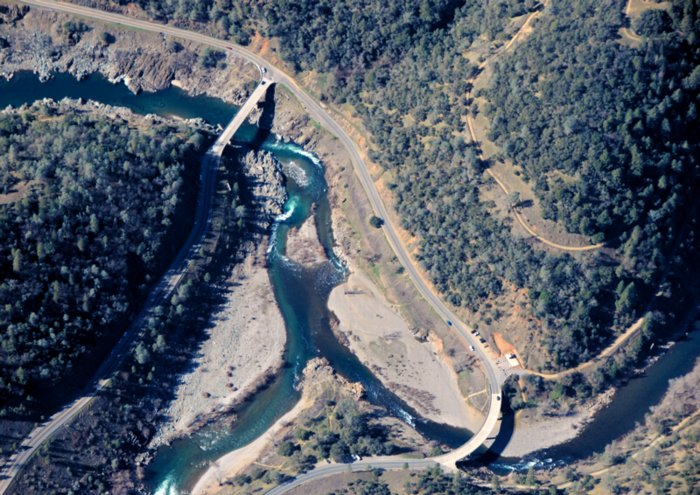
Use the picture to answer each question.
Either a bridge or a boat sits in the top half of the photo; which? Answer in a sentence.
Visible in the top half of the photo is a bridge.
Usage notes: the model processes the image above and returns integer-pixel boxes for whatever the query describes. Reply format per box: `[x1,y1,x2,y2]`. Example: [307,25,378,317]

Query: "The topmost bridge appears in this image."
[208,83,273,155]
